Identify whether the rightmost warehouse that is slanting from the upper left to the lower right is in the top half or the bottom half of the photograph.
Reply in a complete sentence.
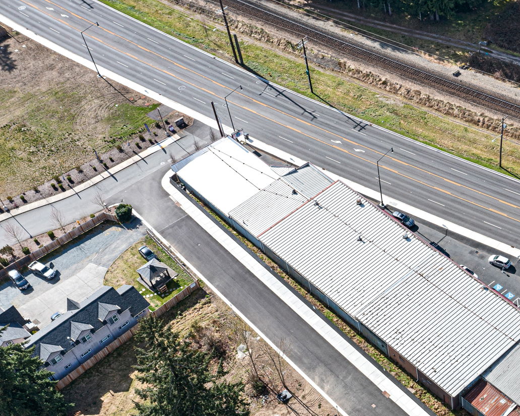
The rightmost warehouse that is slanting from the upper left to the lower right sits in the bottom half of the picture.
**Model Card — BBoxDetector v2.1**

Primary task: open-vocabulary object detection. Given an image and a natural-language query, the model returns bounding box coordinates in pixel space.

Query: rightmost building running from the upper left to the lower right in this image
[260,179,520,411]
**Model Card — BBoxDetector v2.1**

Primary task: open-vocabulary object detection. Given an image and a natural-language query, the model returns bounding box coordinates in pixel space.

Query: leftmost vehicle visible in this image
[7,268,31,290]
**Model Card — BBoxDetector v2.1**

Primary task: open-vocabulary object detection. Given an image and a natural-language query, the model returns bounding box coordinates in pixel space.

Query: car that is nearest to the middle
[137,244,158,262]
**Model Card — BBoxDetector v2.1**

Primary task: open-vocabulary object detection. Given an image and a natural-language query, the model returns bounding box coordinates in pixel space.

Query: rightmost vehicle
[488,255,513,270]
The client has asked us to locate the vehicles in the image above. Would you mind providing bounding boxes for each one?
[488,255,513,270]
[391,211,416,230]
[137,244,158,262]
[44,309,67,325]
[428,240,450,258]
[7,268,31,290]
[25,259,56,280]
